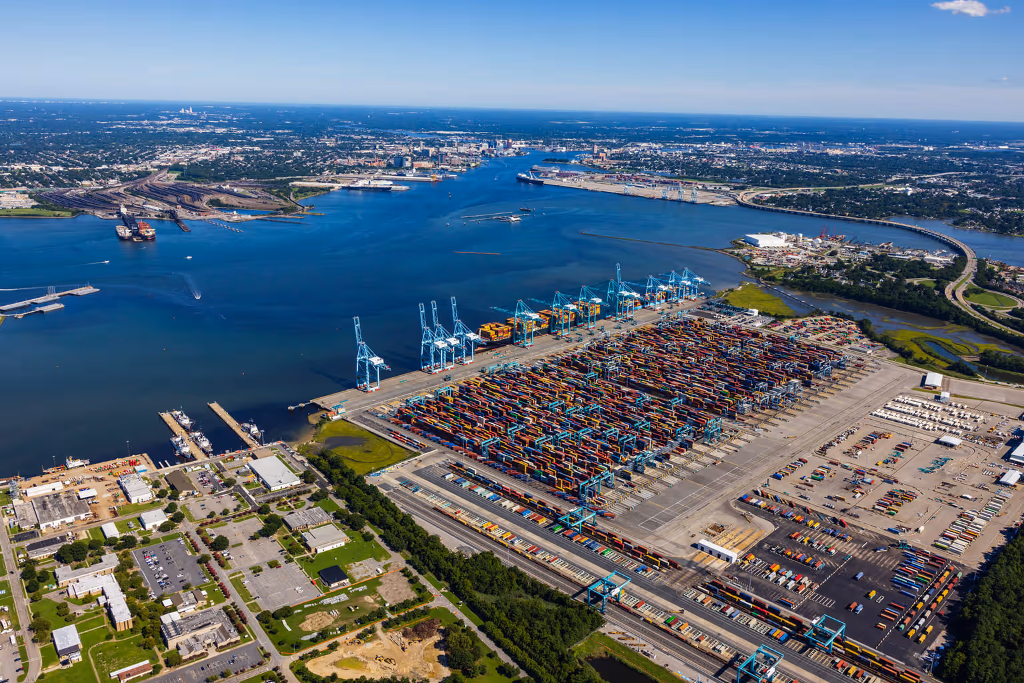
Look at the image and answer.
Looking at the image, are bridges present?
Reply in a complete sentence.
Yes, this view includes a bridge.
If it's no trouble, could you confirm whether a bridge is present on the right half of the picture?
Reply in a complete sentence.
Yes, I can see a bridge on the right half of the picture.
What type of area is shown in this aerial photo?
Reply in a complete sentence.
The picture captures a port.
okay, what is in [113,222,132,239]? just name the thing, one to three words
ship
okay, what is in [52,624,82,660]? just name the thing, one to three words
building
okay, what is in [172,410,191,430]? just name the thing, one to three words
ship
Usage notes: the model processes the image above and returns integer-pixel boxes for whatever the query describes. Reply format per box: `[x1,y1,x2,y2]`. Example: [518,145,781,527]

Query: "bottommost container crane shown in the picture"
[736,642,786,683]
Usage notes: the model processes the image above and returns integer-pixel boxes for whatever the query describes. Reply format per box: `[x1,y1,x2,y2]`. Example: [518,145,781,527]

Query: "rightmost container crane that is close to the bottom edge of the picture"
[802,613,847,653]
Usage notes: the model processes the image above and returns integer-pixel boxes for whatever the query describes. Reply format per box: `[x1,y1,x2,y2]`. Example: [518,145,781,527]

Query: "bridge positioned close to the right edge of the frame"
[734,197,978,268]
